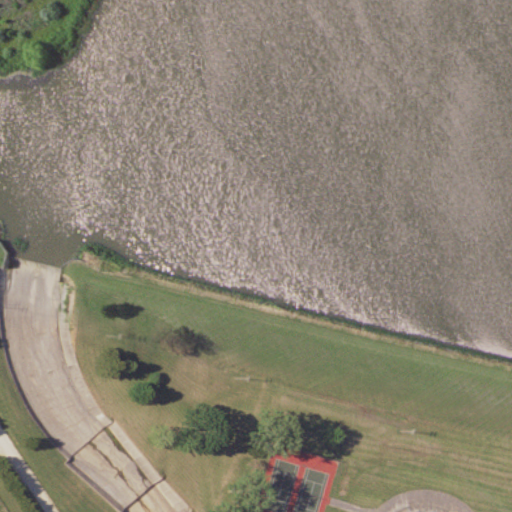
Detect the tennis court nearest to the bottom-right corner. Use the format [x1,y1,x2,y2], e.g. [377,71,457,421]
[294,468,329,512]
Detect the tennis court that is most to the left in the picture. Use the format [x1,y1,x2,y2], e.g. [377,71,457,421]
[264,460,299,512]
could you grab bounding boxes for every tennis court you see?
[294,468,329,512]
[264,460,299,512]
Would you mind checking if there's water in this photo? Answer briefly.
Yes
